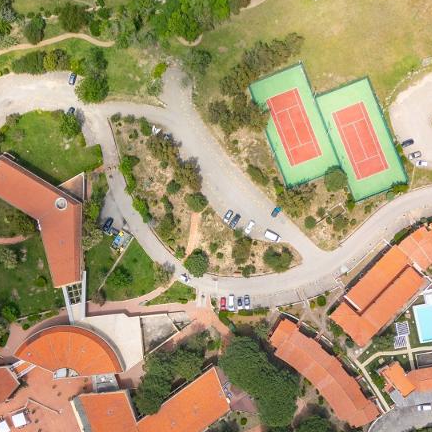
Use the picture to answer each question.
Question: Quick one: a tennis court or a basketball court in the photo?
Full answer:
Visible in the photo is a tennis court.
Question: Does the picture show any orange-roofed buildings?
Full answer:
Yes, the photo shows an orange-roofed building.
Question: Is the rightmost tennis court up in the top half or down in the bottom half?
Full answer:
The rightmost tennis court sits in the top half of the picture.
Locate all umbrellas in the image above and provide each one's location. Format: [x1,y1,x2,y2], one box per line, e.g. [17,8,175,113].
[12,412,27,428]
[0,420,10,432]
